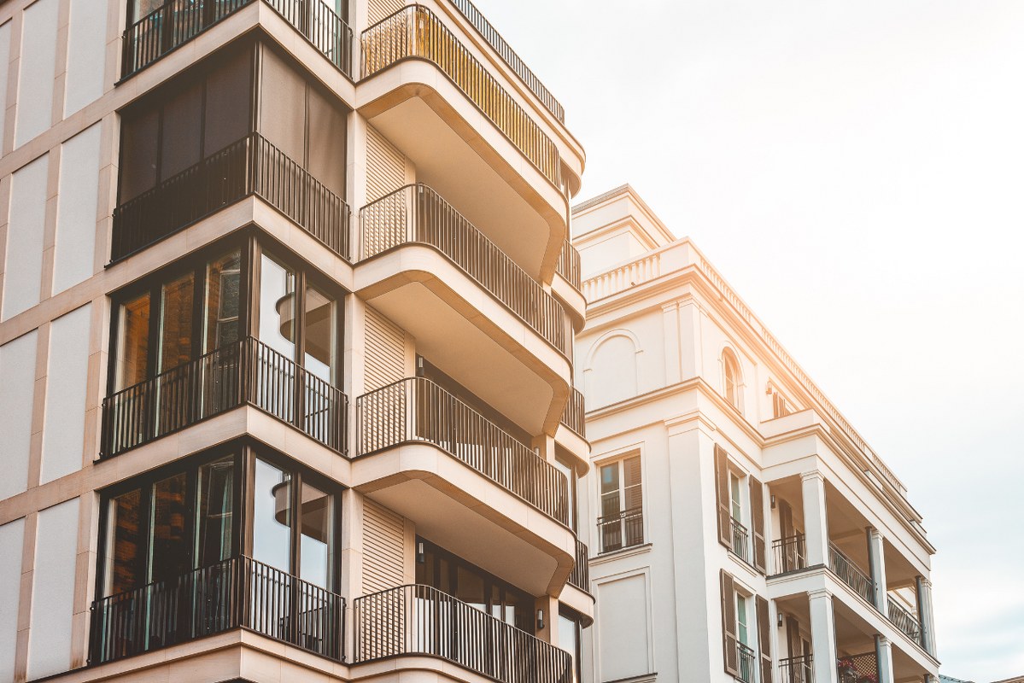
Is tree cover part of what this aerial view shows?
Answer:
No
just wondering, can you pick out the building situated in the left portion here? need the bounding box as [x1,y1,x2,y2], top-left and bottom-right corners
[0,0,594,683]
